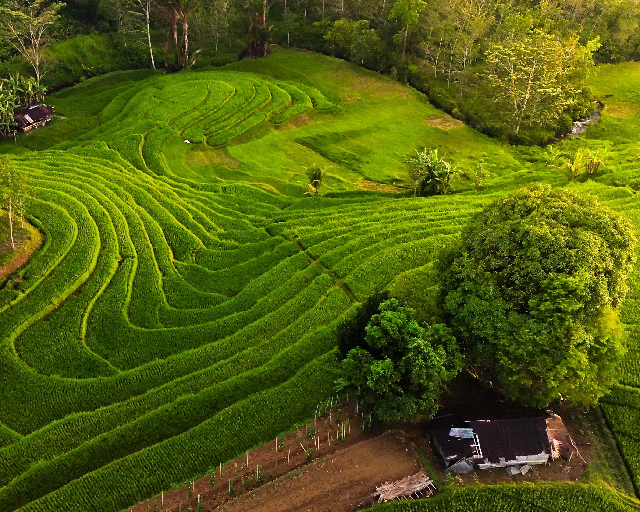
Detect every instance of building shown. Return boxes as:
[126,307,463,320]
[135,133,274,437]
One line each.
[424,406,575,478]
[15,104,55,138]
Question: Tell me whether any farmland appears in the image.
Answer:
Yes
